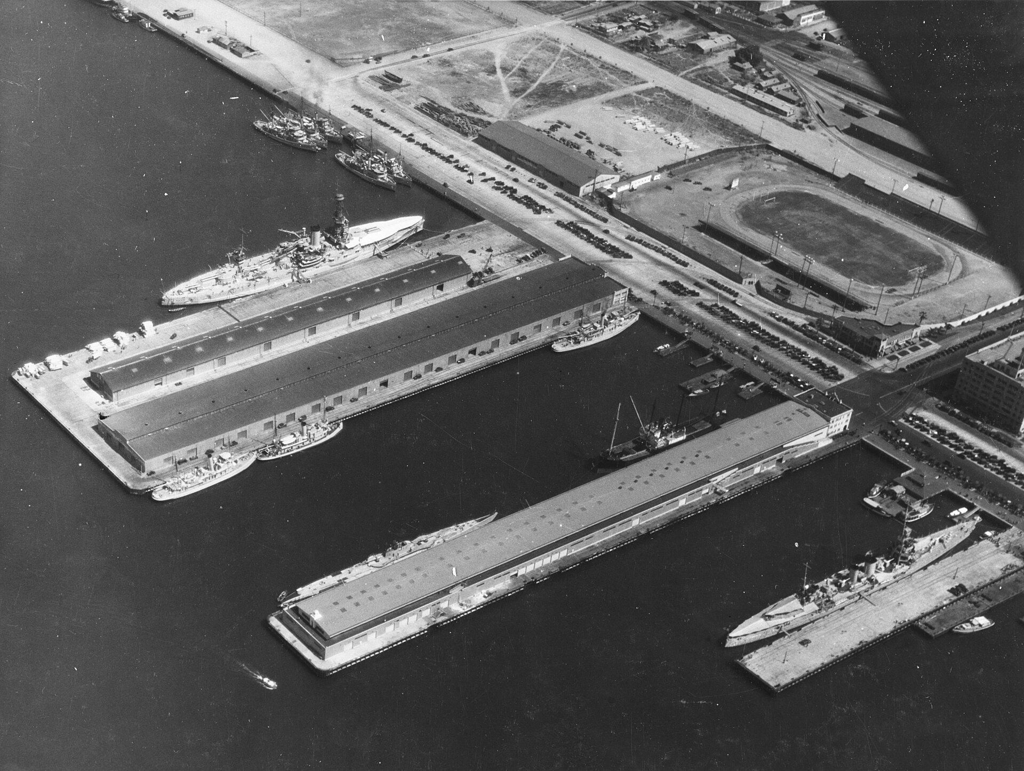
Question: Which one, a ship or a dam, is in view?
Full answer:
It is a ship that can be seen here.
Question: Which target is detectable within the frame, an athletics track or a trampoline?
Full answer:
There is an athletics track in the scene.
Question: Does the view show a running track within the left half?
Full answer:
No, there is no running track within the left half.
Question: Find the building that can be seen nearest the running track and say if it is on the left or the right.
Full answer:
You can find the building that can be seen nearest the running track on the right side of the picture.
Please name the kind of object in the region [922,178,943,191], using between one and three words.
rail car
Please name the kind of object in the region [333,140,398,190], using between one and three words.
ship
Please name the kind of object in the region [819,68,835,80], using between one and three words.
rail car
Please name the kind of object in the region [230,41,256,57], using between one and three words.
shed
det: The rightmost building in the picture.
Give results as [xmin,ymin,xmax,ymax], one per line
[952,325,1024,432]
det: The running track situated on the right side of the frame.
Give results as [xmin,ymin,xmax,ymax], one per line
[710,186,972,306]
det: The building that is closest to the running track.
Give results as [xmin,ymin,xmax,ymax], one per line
[822,304,930,357]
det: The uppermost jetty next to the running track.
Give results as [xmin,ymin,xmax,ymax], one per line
[12,219,642,493]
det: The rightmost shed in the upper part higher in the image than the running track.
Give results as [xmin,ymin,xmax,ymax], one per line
[848,114,933,171]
